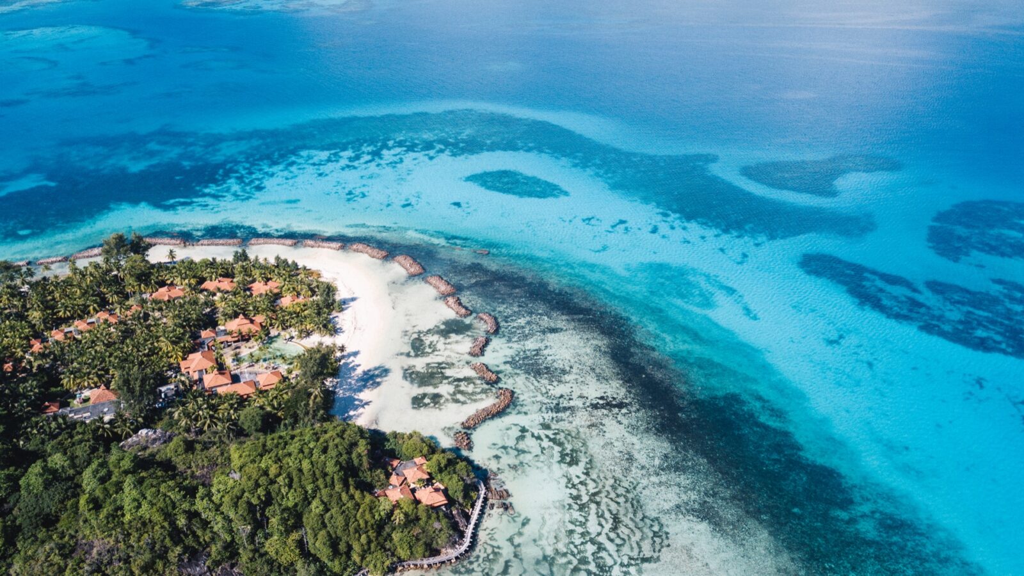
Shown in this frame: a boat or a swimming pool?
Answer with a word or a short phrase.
swimming pool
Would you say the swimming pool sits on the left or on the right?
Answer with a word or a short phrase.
left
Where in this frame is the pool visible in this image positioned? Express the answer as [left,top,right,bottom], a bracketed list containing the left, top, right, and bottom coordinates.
[238,332,306,367]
